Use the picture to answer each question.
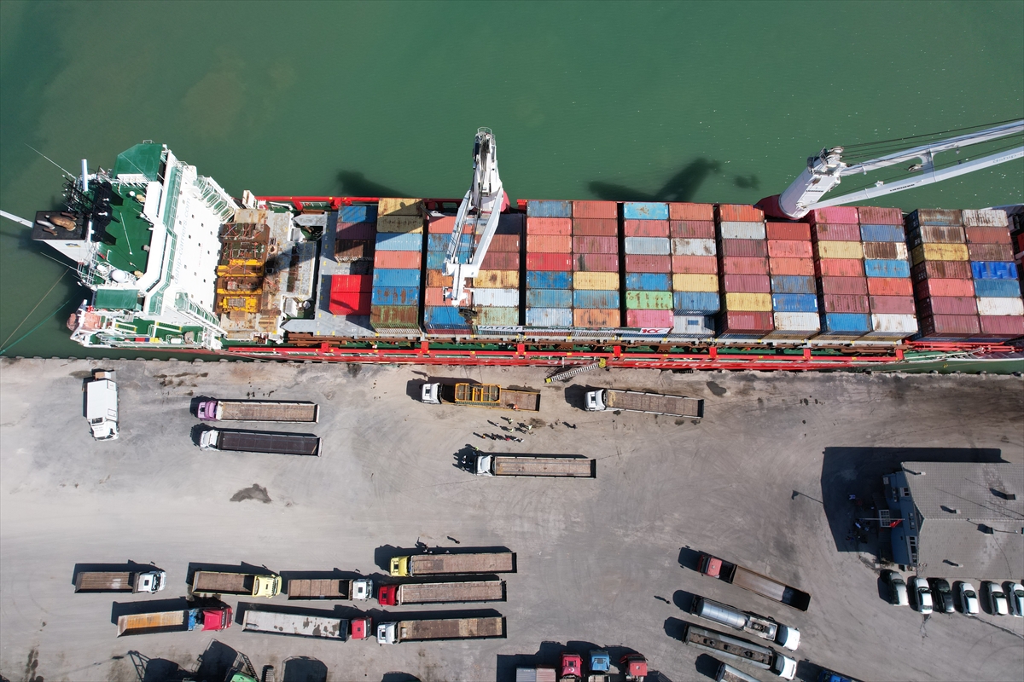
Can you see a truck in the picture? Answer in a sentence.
Yes, the image includes a truck.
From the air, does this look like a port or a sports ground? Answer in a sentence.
This image shows a port.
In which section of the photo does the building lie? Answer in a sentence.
The building is in the bottom right part of the image.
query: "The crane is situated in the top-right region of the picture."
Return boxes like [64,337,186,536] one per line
[759,105,1024,222]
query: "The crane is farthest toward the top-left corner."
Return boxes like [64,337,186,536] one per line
[444,136,519,346]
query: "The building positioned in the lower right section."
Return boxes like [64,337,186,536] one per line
[868,462,1024,582]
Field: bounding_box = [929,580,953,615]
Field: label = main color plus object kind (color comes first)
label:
black car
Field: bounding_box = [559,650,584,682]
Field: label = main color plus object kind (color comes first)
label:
red truck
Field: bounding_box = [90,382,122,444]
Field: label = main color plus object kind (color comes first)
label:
white truck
